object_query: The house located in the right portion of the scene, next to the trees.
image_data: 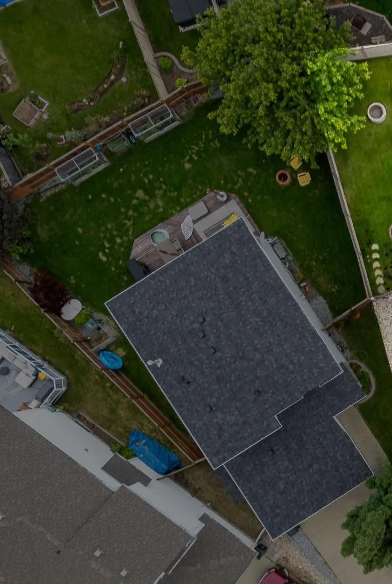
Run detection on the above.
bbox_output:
[104,215,374,540]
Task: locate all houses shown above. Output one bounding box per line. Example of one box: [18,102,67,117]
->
[104,215,374,540]
[0,400,260,584]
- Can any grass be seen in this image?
Yes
